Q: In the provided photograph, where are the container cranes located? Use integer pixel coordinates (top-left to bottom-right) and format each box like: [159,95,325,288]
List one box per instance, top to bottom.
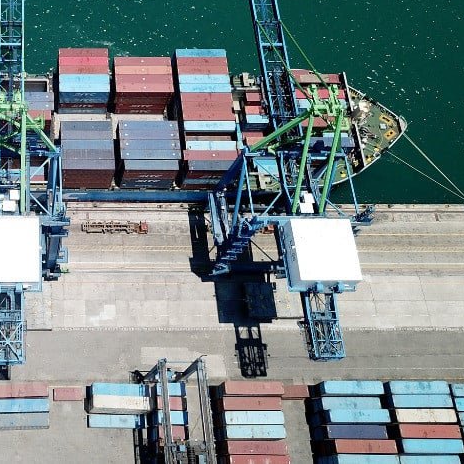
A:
[0,0,81,365]
[199,0,379,366]
[141,357,222,464]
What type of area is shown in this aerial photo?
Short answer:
port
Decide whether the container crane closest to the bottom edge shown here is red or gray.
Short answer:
gray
